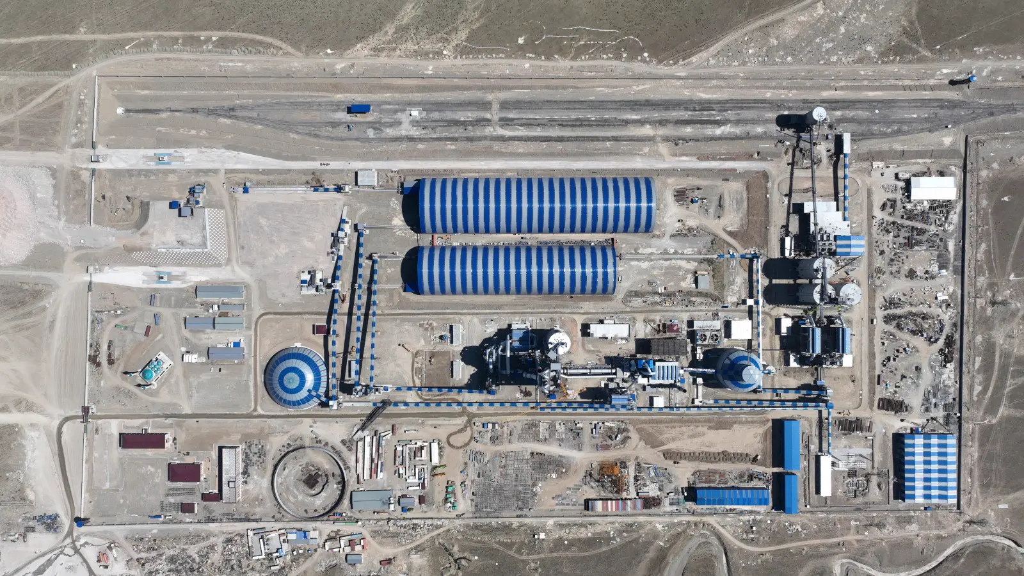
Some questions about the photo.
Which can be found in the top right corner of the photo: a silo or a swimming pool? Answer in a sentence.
What appears in the top right corner of the photo is a silo.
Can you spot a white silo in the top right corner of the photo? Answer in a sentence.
Yes, the scene does show a white silo in the top right corner of the photo.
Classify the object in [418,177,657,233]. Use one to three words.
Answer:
building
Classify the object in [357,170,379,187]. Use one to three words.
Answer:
house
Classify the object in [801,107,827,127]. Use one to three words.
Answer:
silo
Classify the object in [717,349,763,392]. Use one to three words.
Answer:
silo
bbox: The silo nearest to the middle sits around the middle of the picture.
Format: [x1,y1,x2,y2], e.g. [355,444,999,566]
[545,328,571,355]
